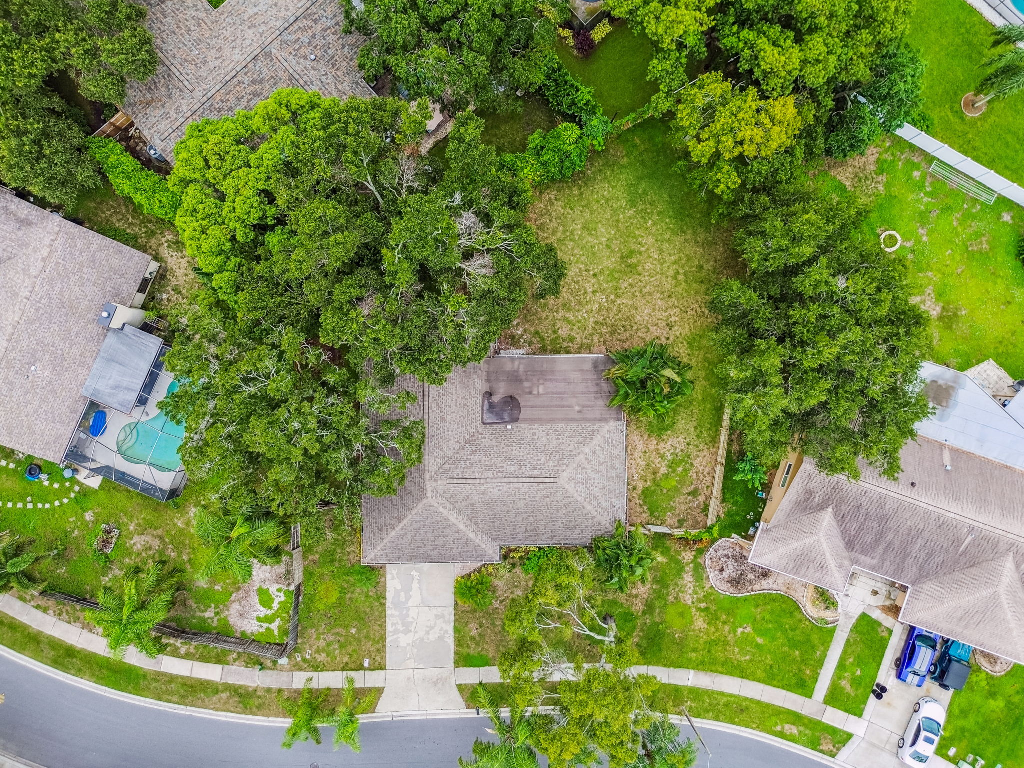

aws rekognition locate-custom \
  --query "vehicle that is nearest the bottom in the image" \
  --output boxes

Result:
[901,699,950,768]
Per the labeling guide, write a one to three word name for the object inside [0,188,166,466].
house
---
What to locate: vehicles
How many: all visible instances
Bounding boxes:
[901,699,950,768]
[932,637,978,696]
[898,625,944,691]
